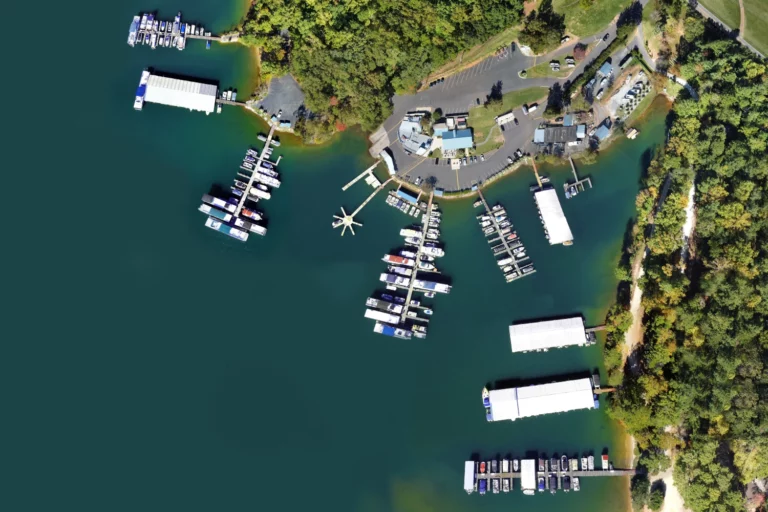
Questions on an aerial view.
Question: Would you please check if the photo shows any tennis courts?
No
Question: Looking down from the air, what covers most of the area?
water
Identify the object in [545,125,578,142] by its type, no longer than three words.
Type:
building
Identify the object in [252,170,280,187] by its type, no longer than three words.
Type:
boat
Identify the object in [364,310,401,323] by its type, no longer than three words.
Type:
boat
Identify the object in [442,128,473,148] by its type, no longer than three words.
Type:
building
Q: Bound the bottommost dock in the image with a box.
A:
[476,462,634,490]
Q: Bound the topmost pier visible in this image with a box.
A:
[135,20,221,48]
